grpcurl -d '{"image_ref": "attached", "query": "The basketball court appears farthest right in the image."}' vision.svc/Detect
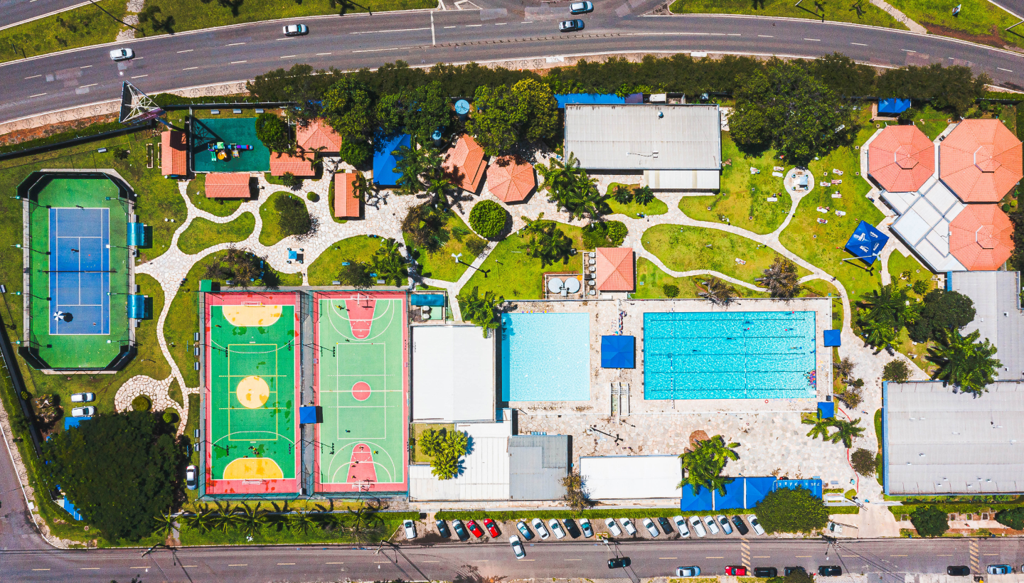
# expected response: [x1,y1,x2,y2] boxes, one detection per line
[314,292,406,492]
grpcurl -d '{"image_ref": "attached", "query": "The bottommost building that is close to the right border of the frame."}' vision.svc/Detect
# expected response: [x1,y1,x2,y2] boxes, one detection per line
[880,376,1024,495]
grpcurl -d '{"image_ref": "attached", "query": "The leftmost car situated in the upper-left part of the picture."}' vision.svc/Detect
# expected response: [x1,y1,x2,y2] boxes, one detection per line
[109,46,135,61]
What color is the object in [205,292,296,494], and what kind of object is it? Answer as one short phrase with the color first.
green sports court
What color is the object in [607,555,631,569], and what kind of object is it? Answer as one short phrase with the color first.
black car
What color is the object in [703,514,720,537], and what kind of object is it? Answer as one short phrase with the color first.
white car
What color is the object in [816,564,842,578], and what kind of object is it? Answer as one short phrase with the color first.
black car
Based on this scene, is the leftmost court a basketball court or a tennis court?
tennis court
